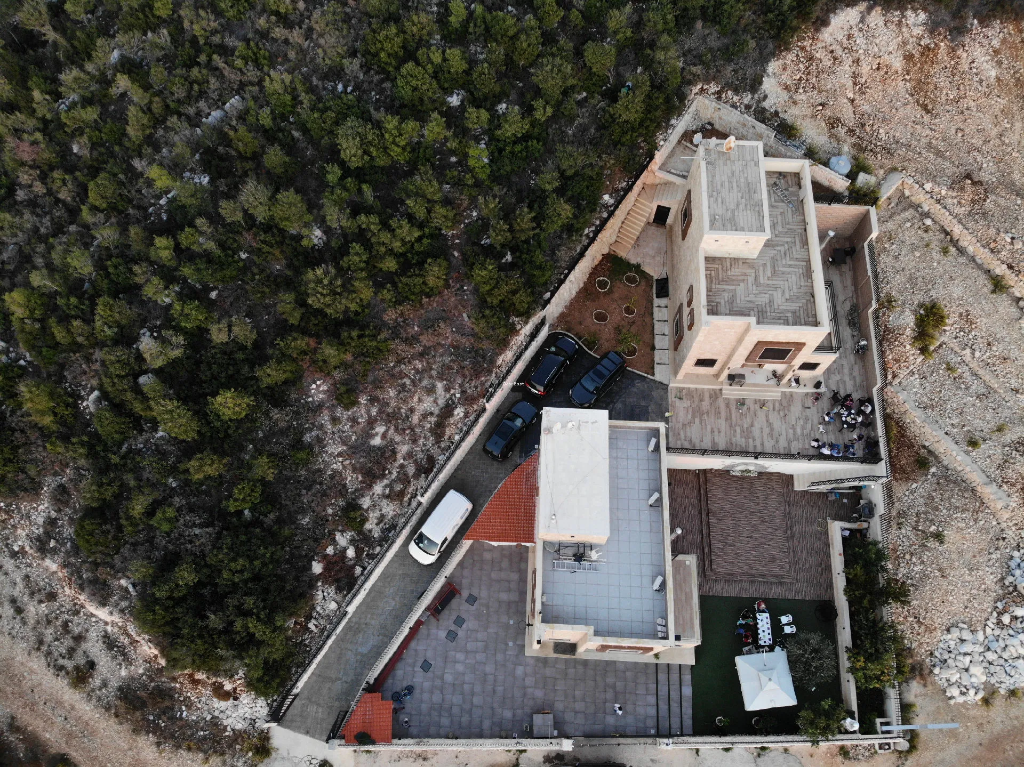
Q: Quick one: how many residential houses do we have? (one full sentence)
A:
The picture shows 2 residential houses.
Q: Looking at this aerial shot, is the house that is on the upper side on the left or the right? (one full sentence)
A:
The house that is on the upper side sits on the right side.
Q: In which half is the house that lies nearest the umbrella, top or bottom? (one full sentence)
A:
It is in the bottom half that the house that lies nearest the umbrella appears.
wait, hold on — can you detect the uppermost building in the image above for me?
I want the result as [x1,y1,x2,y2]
[667,139,849,400]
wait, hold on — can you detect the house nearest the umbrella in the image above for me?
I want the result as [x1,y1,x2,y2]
[463,407,703,665]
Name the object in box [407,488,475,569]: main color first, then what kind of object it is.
white van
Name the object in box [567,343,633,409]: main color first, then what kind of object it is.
black car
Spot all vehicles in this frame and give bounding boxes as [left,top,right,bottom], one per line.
[407,488,475,569]
[480,399,538,464]
[524,332,579,399]
[545,754,628,767]
[567,343,633,409]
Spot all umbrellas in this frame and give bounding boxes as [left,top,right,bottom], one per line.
[735,637,797,711]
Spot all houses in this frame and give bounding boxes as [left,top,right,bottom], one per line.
[667,139,849,400]
[463,407,703,665]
